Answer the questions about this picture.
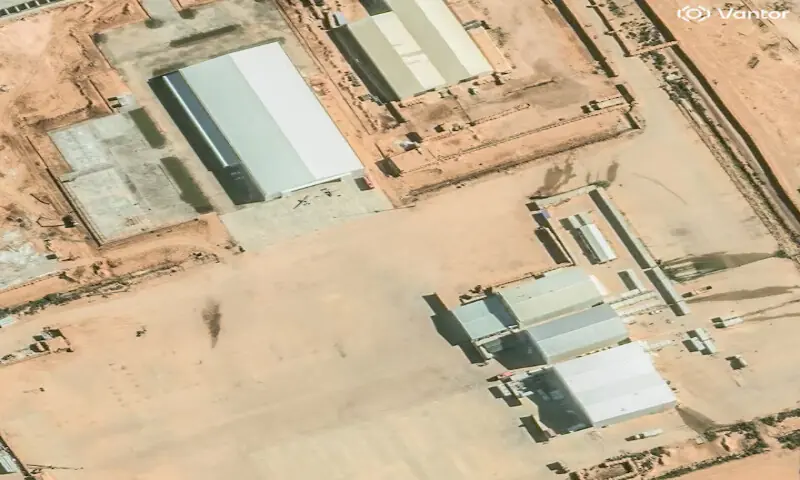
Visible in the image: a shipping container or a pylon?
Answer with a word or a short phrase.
shipping container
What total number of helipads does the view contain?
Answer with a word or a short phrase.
0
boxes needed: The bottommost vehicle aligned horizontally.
[634,425,665,440]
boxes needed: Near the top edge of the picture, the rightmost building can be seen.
[347,0,495,103]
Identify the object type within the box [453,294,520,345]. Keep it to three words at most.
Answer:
shed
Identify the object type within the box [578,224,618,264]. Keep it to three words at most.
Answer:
shed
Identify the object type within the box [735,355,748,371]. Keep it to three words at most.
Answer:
vehicle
